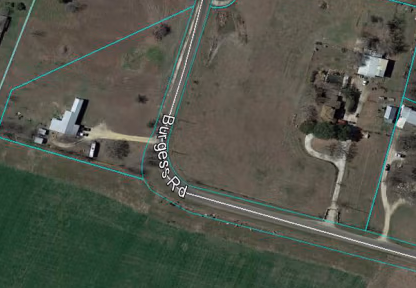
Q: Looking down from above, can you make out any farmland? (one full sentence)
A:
Yes, there's farmland in this view.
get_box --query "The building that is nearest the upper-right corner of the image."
[360,54,389,77]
